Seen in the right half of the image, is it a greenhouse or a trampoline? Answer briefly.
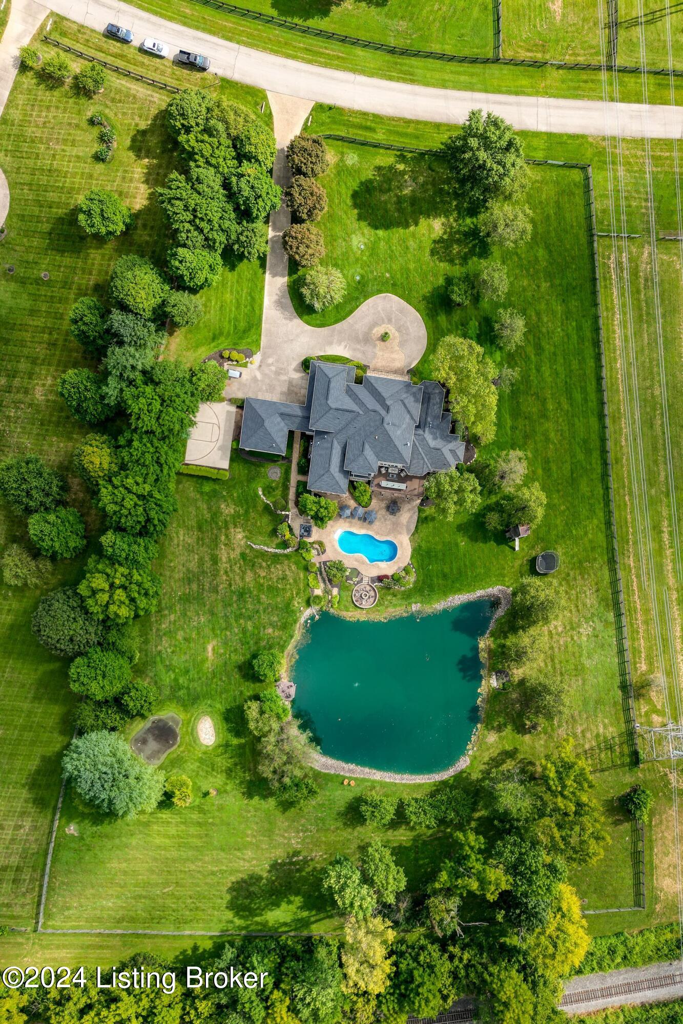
trampoline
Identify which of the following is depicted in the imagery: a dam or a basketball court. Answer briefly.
basketball court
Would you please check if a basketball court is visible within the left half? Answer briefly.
Yes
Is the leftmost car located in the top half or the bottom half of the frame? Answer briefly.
top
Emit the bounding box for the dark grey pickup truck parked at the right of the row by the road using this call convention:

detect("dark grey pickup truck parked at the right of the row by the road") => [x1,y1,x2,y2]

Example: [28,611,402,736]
[176,50,210,70]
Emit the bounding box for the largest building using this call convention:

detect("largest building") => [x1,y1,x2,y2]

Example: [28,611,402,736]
[239,360,465,500]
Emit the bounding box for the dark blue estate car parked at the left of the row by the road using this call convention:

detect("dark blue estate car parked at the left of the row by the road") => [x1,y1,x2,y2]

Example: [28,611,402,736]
[105,23,134,43]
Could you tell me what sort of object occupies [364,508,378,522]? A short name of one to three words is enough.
umbrella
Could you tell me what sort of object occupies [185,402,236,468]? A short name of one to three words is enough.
basketball court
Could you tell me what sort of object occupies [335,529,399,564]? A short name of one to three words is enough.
swimming pool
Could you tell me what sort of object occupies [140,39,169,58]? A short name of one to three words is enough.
car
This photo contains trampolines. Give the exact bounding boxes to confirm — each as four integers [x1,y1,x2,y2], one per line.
[535,551,559,575]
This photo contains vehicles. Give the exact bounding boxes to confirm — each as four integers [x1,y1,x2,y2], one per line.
[228,369,243,378]
[176,50,210,70]
[140,39,169,58]
[105,23,134,43]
